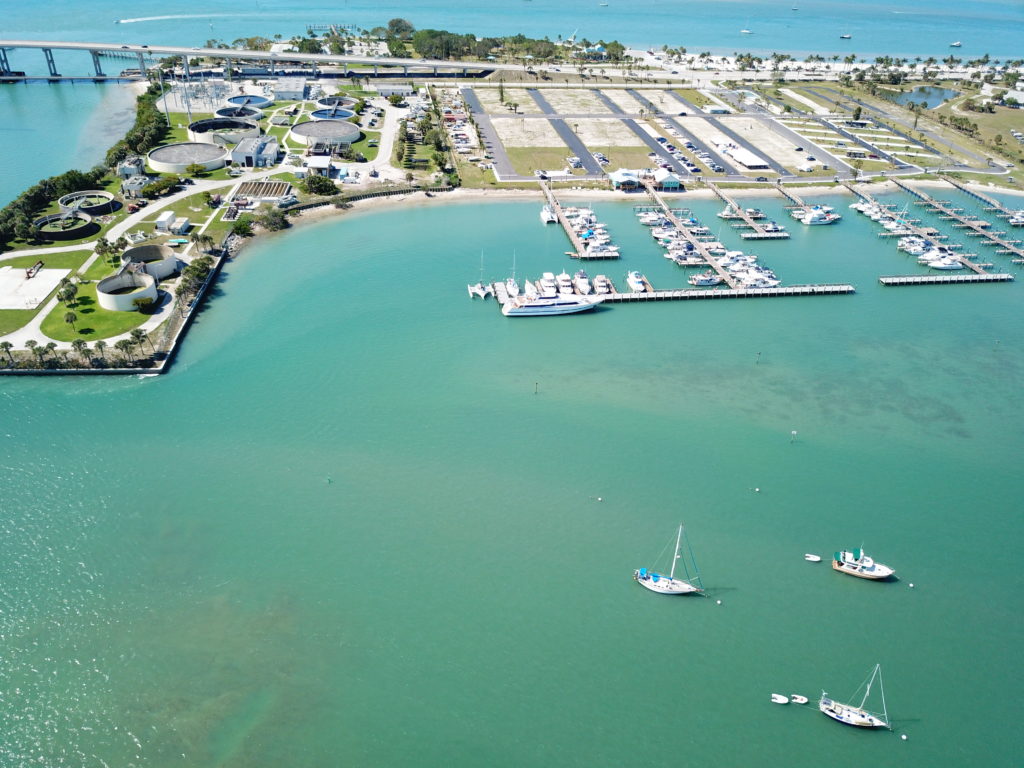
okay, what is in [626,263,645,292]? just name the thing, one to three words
boat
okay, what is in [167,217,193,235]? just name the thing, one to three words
shed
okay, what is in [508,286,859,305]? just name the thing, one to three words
pier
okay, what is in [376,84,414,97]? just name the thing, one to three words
building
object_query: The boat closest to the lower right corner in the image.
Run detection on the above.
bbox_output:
[820,664,899,736]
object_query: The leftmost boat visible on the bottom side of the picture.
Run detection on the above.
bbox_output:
[634,523,701,596]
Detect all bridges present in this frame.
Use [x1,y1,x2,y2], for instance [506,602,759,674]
[0,38,492,82]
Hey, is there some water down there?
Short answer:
Yes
